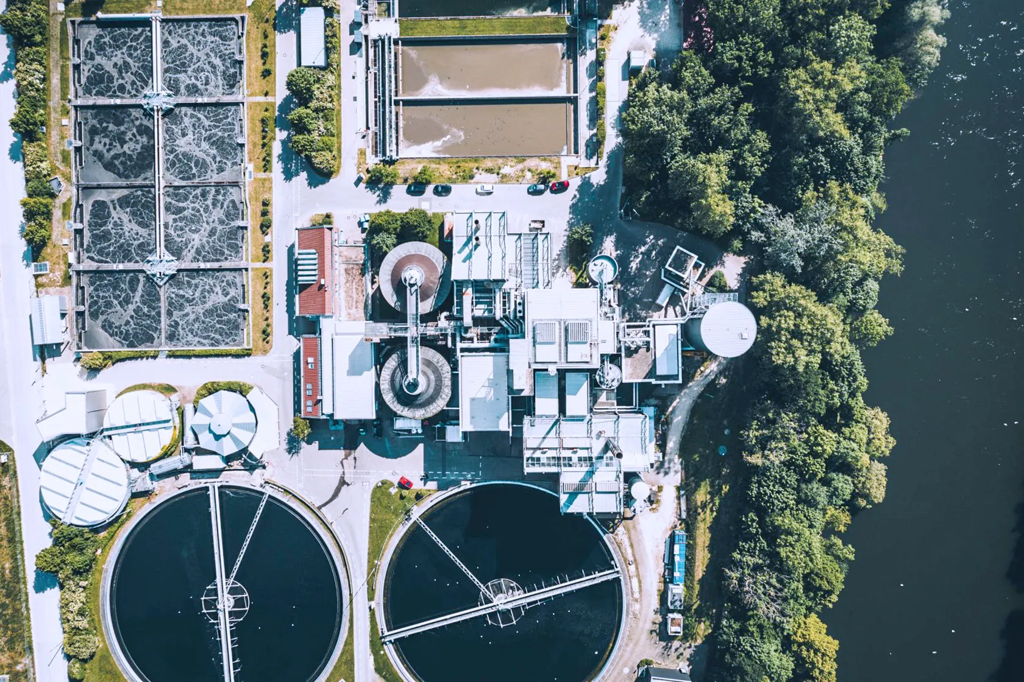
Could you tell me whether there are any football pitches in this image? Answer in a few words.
No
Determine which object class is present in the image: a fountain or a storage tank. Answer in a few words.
storage tank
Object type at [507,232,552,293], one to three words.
building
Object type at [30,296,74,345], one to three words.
shed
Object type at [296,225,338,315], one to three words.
house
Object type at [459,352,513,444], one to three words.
building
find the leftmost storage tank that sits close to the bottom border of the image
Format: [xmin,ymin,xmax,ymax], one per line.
[103,475,351,682]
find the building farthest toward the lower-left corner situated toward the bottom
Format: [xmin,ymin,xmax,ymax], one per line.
[133,472,157,493]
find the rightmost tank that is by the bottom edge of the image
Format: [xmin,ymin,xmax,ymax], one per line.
[379,479,625,682]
